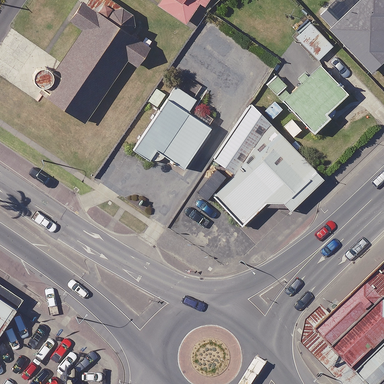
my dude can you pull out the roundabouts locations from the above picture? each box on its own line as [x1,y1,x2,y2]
[178,325,242,384]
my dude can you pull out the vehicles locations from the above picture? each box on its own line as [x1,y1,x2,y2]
[180,295,208,312]
[372,170,384,189]
[0,341,12,362]
[238,356,268,384]
[34,338,54,362]
[27,324,48,348]
[56,352,78,375]
[45,288,58,315]
[74,351,100,375]
[28,166,58,188]
[30,208,59,233]
[30,368,52,384]
[294,290,316,312]
[320,236,343,258]
[312,220,338,243]
[3,377,15,384]
[13,316,28,338]
[6,329,20,350]
[330,56,351,78]
[344,236,373,262]
[184,206,214,230]
[12,354,29,374]
[49,338,72,363]
[82,372,102,383]
[196,198,222,220]
[20,358,42,380]
[67,278,92,300]
[284,276,306,297]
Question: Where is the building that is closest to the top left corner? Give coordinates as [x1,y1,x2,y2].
[32,0,150,124]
